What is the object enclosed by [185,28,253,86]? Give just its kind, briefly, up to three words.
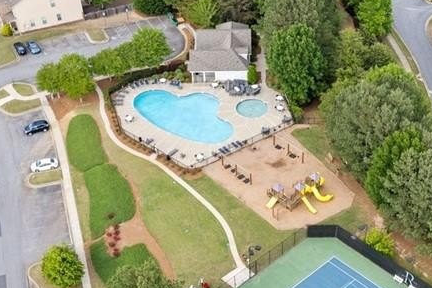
building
